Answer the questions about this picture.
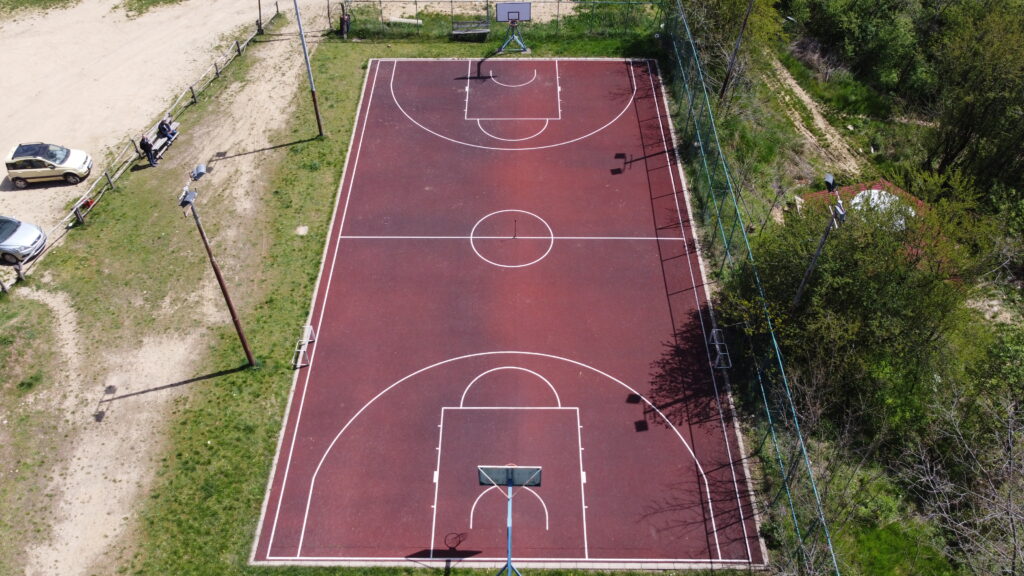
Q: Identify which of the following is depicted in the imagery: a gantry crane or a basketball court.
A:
basketball court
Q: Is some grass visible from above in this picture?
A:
Yes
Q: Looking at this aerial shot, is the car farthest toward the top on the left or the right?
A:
left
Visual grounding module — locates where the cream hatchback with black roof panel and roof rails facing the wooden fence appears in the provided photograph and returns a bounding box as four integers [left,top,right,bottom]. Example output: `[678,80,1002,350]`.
[1,142,93,189]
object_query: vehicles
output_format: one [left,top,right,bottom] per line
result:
[1,142,93,189]
[0,212,50,264]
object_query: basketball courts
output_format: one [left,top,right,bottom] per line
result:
[247,57,771,571]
